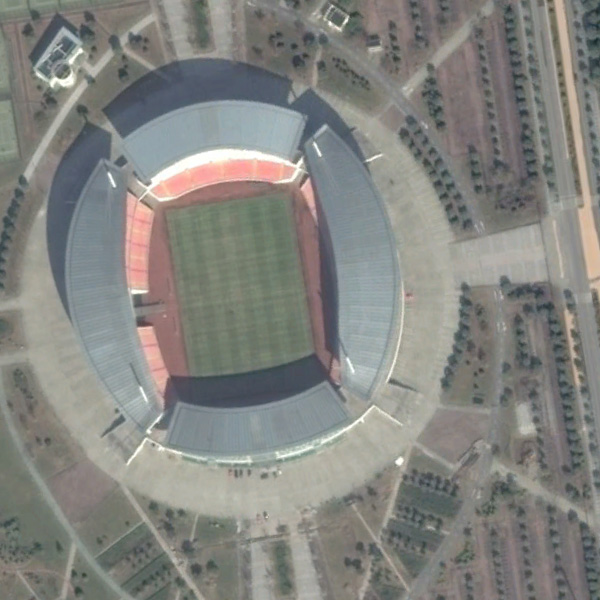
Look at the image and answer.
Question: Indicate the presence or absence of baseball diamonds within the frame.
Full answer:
No, no baseball diamond can be seen from above.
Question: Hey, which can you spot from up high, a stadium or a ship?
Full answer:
This aerial view contains a stadium.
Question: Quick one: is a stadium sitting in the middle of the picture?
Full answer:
Yes, in the middle of the picture there is a stadium.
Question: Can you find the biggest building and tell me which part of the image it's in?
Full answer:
Look in the top left portion of the view to spot the biggest building.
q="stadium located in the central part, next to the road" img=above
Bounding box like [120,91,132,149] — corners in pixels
[66,100,420,466]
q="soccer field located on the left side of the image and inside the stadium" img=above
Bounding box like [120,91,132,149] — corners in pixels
[130,165,336,407]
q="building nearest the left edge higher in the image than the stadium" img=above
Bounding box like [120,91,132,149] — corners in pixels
[34,27,86,87]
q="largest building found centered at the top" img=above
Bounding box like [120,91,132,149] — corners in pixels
[325,5,350,33]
